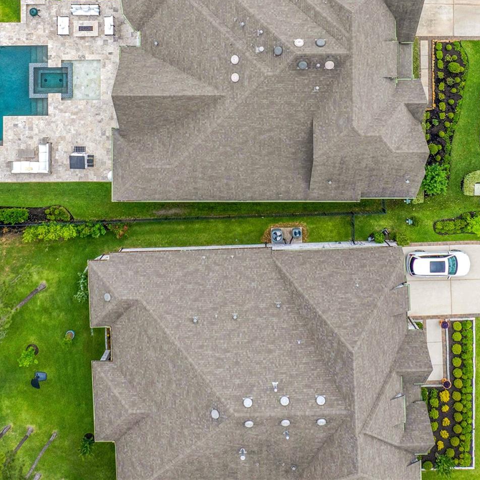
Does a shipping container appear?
No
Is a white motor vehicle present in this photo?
Yes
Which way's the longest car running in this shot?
from side to side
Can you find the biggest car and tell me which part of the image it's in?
right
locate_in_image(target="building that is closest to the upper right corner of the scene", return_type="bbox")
[111,0,429,202]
